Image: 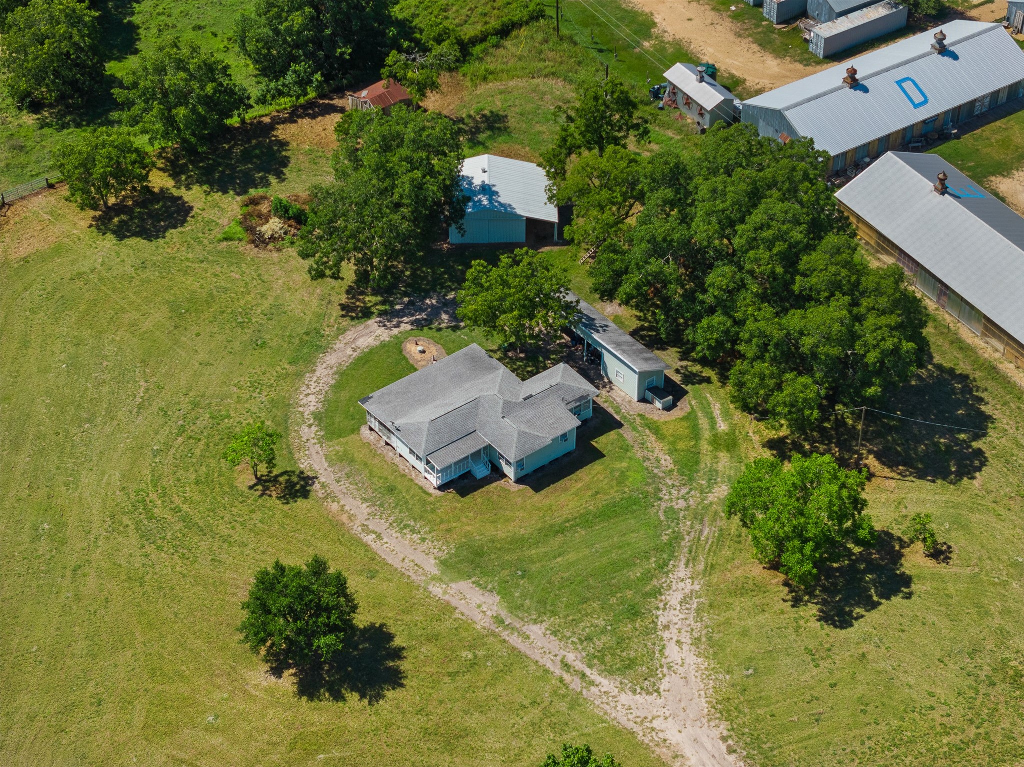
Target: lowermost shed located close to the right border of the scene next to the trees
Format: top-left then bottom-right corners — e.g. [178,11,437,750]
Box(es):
[832,152,1024,367]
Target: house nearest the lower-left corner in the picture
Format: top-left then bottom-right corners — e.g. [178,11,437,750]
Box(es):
[358,345,599,488]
